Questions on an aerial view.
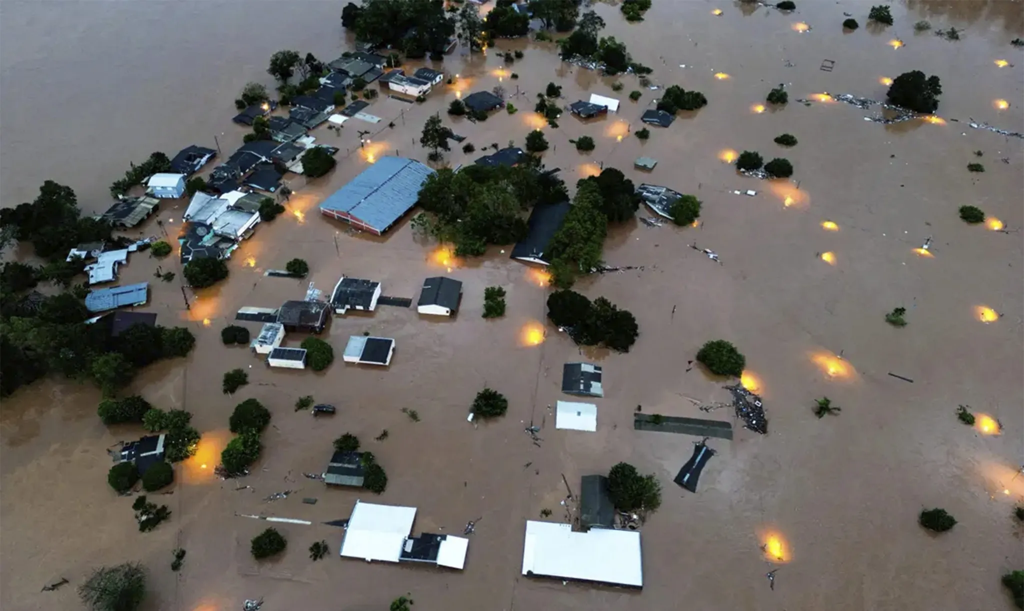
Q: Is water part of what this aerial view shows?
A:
Yes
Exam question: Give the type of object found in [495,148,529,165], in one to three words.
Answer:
house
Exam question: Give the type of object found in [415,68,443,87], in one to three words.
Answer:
house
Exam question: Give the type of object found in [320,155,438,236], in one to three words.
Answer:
building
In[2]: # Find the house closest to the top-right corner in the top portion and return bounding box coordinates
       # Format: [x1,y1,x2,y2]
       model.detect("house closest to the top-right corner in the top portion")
[642,110,677,129]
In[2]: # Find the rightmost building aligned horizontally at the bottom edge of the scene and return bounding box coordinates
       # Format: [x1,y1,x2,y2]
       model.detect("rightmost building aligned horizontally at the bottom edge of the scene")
[523,521,642,588]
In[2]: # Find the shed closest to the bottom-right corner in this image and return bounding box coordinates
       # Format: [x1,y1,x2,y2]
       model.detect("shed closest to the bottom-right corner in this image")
[634,412,734,442]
